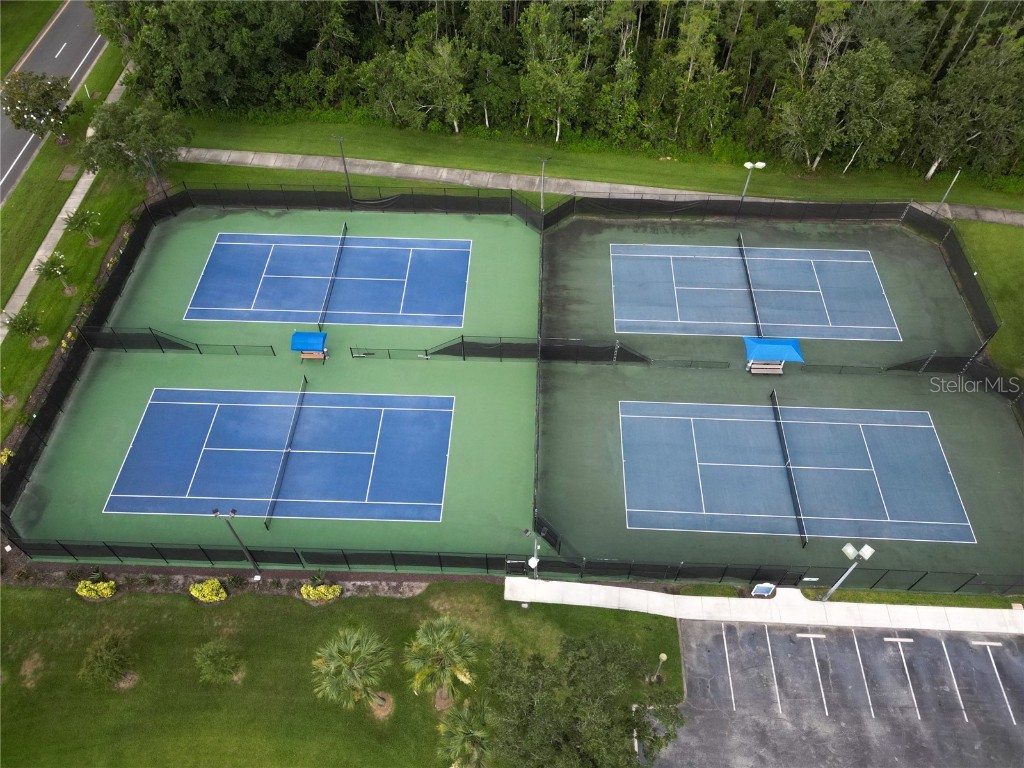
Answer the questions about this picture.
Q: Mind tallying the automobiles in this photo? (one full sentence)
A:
There are no automobiles in the image.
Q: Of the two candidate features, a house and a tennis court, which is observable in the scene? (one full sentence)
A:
I can see a tennis court in this picture.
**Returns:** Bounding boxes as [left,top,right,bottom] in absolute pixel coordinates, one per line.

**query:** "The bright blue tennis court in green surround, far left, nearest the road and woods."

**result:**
[94,206,541,362]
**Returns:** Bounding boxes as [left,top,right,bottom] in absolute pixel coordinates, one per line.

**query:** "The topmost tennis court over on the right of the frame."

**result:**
[540,215,987,374]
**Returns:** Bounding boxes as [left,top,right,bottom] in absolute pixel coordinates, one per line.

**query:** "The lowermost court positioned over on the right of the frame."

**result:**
[536,362,1024,599]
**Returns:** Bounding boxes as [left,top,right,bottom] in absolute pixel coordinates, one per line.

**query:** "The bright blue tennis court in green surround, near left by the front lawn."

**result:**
[8,349,578,583]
